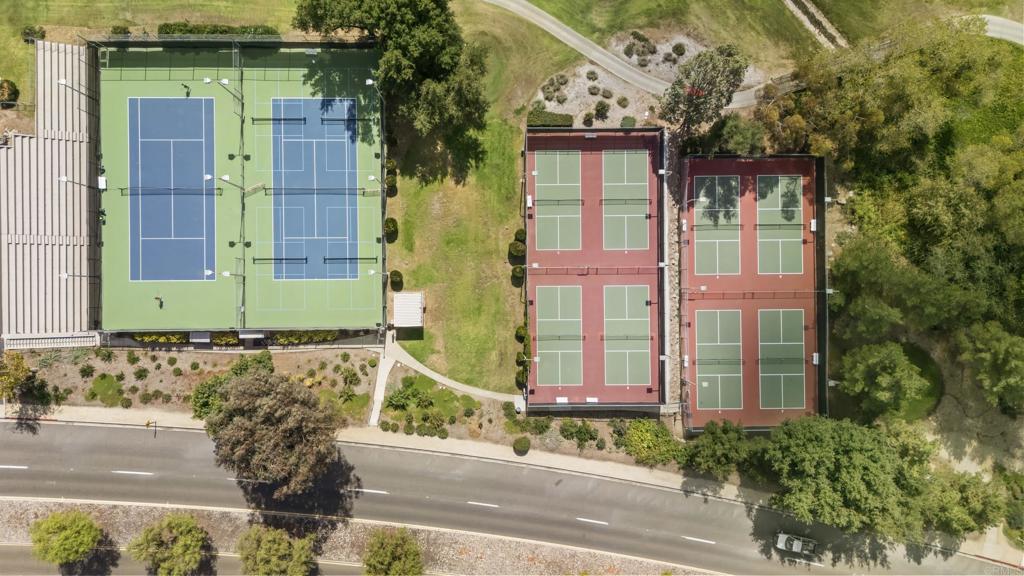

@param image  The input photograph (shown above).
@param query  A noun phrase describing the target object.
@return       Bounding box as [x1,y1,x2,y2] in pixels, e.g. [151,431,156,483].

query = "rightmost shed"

[394,292,427,327]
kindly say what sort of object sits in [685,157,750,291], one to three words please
sports court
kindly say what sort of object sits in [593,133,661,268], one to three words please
sports court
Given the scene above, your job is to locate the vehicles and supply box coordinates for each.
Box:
[774,532,817,554]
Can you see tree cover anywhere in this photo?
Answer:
Yes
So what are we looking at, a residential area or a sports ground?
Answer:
sports ground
